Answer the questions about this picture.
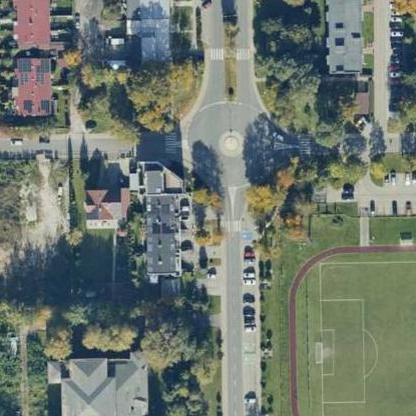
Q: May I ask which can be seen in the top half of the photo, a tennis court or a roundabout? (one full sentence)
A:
You can see a roundabout in the top half of the photo.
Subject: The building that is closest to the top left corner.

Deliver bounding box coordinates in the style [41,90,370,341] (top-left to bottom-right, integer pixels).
[14,0,53,49]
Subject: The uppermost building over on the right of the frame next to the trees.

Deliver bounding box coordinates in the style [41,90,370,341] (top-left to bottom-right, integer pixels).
[327,0,365,76]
